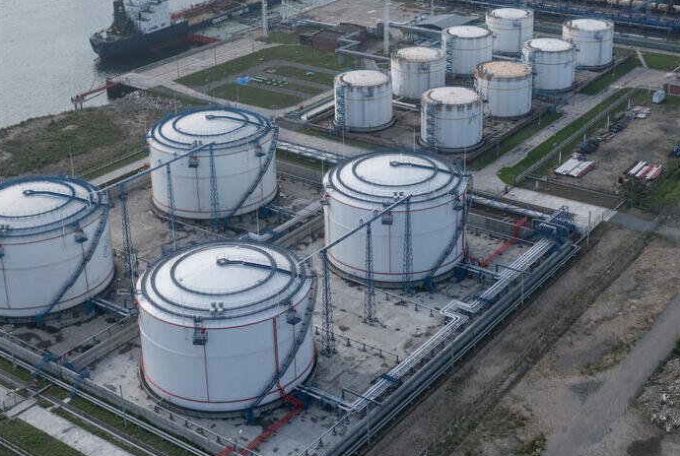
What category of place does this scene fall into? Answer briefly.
industrial area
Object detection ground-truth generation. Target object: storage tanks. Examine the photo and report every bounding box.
[423,87,491,155]
[0,147,121,323]
[127,216,320,419]
[528,38,582,95]
[395,45,448,103]
[317,128,472,287]
[447,27,499,80]
[570,21,620,74]
[335,70,398,135]
[142,88,282,224]
[480,60,538,122]
[491,8,537,58]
